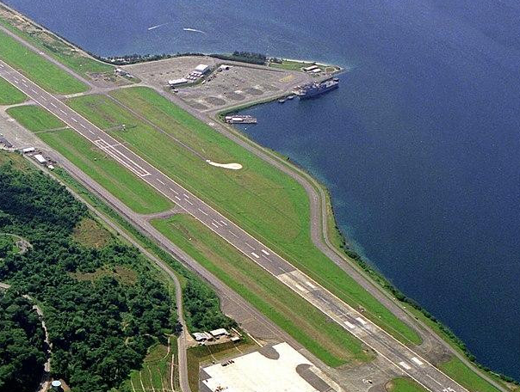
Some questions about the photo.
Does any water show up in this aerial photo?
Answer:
Yes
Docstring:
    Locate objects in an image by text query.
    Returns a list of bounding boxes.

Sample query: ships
[294,74,340,95]
[220,114,259,124]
